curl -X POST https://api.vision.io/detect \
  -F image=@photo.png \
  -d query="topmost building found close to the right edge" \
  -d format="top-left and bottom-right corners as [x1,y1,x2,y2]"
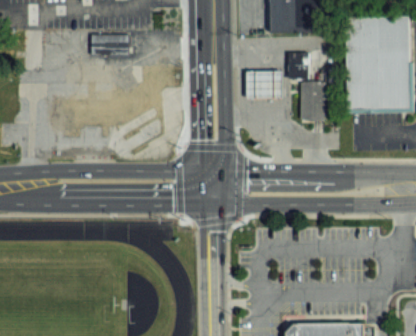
[346,16,416,116]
